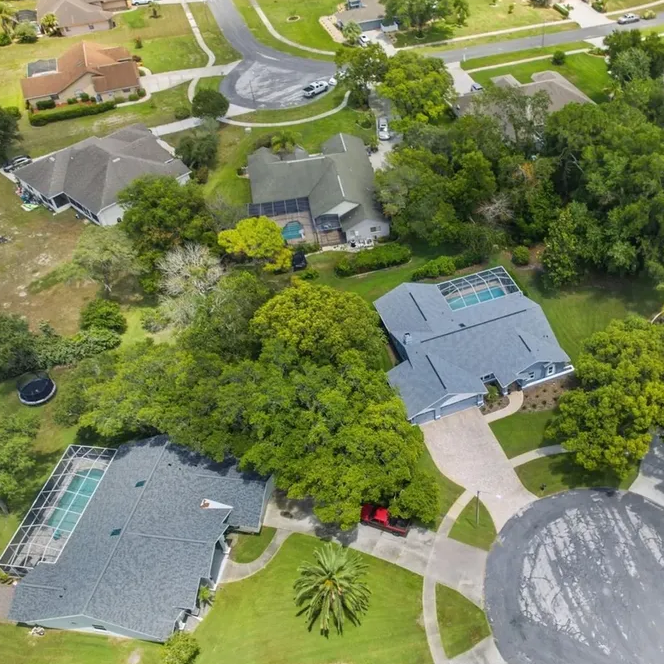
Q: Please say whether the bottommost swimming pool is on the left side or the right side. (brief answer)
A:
left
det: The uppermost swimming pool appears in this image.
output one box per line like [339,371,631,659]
[252,209,318,244]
